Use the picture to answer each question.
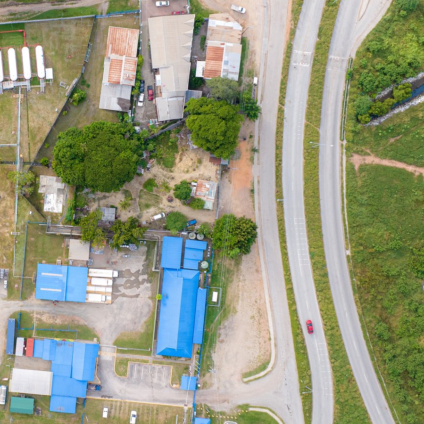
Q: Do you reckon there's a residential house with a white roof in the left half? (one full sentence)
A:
Yes, in the left half there is a residential house with a white roof.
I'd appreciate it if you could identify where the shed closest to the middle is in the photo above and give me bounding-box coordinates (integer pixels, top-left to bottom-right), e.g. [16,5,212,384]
[189,181,215,210]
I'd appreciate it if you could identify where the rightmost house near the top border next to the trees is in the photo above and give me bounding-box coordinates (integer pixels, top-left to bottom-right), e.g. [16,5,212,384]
[195,14,242,81]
